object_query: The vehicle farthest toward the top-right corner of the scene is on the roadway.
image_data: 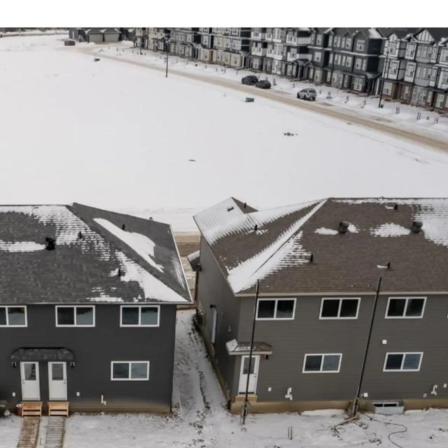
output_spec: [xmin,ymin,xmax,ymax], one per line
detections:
[294,86,321,100]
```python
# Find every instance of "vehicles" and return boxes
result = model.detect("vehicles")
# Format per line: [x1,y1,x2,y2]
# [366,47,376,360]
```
[241,73,261,83]
[294,86,321,100]
[255,77,275,88]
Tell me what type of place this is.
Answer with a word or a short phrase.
residential area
